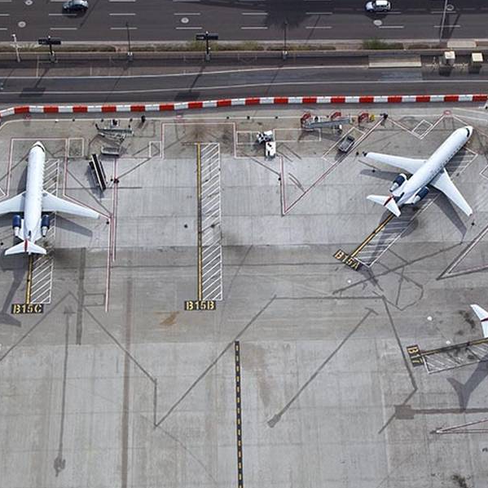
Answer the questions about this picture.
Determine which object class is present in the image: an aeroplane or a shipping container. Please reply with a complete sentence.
Of the two, only an aeroplane appears.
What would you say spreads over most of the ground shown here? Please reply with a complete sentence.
Most of the picture is covered by paved ground.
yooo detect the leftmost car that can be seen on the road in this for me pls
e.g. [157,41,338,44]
[62,1,89,13]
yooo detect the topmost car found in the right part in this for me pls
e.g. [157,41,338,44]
[365,0,391,13]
